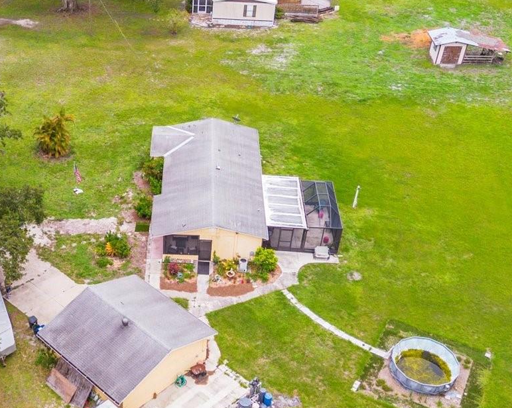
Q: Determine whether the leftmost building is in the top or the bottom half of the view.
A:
bottom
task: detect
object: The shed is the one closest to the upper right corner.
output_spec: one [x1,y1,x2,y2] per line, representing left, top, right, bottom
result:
[427,25,504,67]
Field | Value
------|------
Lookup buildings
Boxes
[36,273,217,408]
[427,25,504,67]
[149,116,308,262]
[192,0,279,26]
